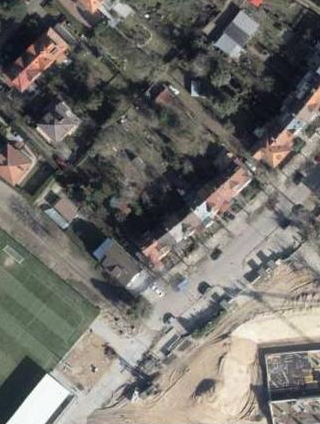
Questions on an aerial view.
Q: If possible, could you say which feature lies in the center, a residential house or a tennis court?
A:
residential house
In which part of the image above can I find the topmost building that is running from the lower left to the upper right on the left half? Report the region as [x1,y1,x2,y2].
[6,30,71,92]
